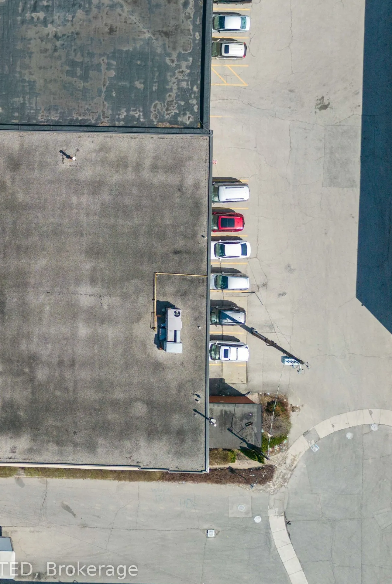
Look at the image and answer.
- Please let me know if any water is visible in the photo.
No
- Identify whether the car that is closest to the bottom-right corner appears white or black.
white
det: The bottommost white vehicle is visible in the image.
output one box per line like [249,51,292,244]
[210,338,252,364]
